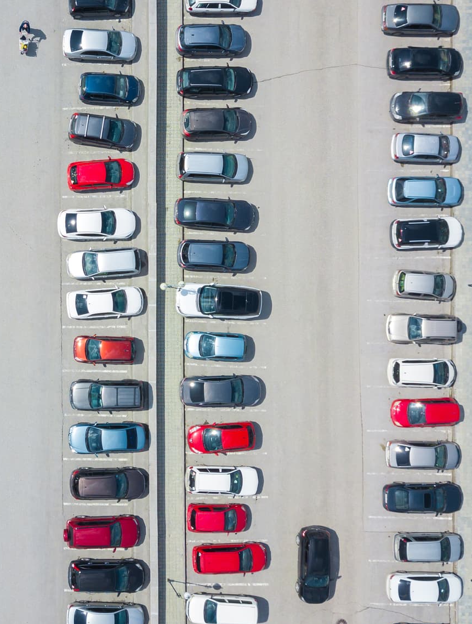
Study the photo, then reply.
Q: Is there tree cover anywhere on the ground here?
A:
No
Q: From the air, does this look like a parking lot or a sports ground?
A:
parking lot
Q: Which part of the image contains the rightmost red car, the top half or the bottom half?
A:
bottom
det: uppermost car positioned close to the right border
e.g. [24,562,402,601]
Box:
[380,0,460,40]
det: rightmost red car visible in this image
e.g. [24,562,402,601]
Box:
[389,393,462,432]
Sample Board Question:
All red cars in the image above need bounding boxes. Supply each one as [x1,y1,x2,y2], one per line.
[74,332,134,368]
[187,419,255,458]
[192,538,266,576]
[64,511,140,552]
[67,155,134,193]
[389,393,462,432]
[187,500,246,536]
